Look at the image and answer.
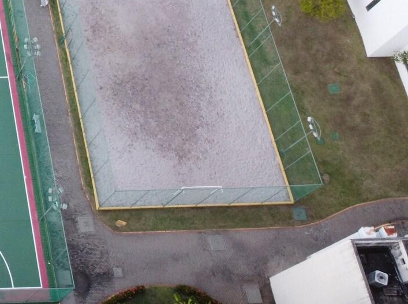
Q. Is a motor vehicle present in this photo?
No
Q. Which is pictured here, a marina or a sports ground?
sports ground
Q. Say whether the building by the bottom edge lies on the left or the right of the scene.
right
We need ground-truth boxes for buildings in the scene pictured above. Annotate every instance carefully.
[352,0,408,56]
[268,220,408,304]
